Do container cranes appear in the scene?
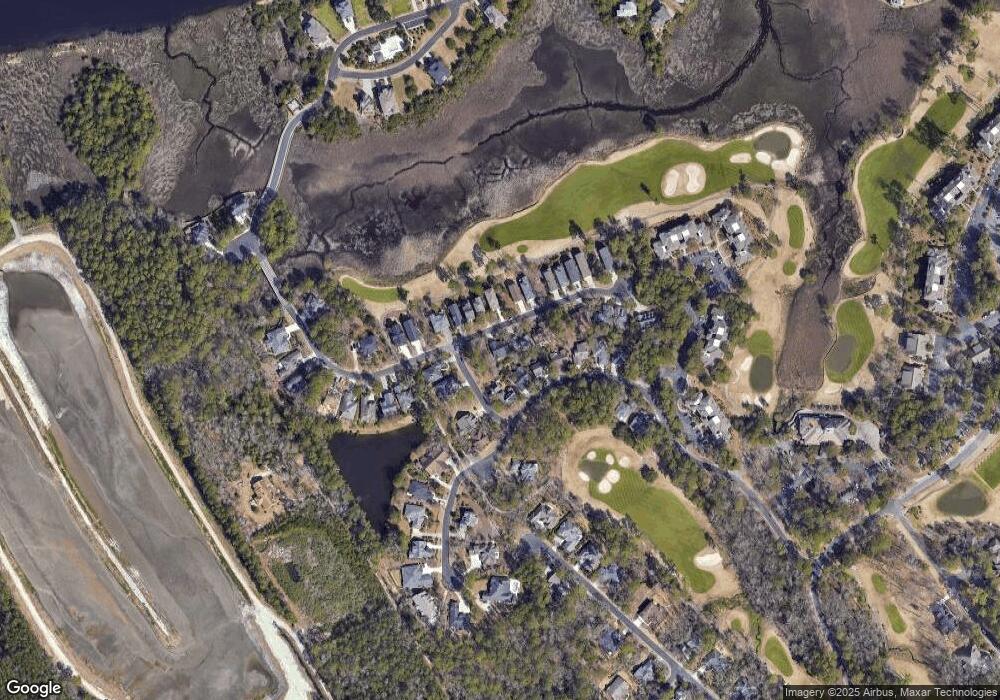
No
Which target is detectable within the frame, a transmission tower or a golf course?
golf course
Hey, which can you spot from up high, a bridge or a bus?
bridge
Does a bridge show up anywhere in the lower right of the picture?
No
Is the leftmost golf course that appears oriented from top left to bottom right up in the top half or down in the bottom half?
bottom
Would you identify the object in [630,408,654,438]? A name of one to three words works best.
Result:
house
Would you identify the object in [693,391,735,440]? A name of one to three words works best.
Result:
building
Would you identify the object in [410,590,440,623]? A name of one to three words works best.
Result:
house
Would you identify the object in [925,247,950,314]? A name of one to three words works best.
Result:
building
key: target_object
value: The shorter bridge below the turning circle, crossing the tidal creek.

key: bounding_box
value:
[250,248,289,307]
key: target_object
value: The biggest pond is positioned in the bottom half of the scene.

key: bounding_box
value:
[330,424,424,527]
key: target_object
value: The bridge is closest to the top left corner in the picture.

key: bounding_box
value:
[262,111,306,190]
